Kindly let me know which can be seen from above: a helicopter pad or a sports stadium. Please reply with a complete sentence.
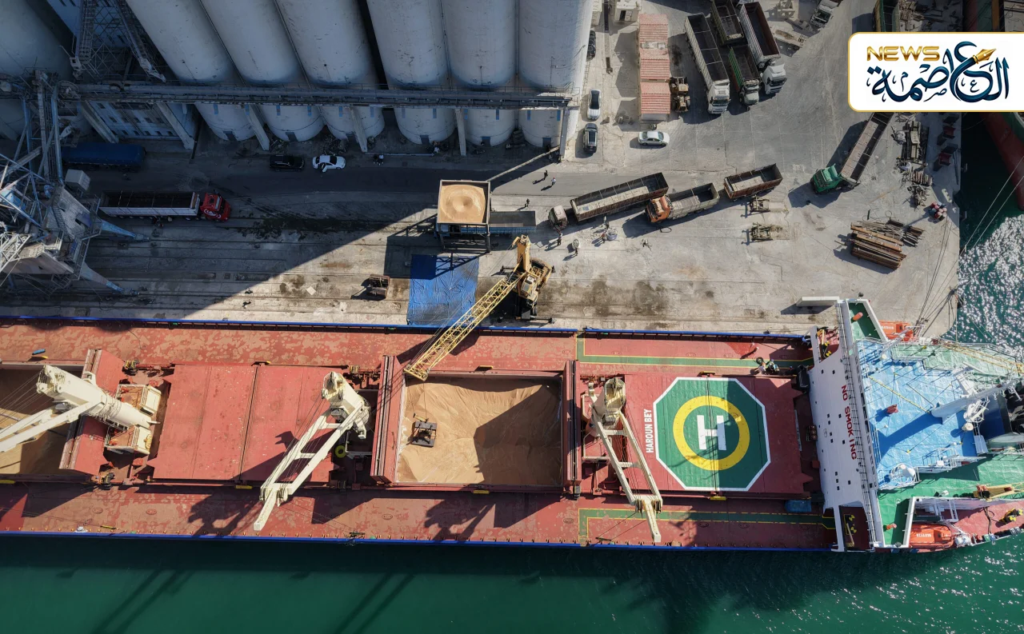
There is a helicopter pad in the scene.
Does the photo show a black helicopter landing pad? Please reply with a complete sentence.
No, the frame has no black helicopter landing pad in it.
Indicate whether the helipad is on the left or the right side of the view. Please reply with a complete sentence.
It is on the right.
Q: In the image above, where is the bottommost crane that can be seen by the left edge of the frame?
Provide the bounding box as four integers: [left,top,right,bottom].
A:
[0,368,173,473]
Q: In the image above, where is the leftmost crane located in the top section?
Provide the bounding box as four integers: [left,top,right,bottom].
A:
[0,64,153,298]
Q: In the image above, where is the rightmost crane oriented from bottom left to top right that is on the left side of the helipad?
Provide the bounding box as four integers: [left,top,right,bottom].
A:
[409,233,560,428]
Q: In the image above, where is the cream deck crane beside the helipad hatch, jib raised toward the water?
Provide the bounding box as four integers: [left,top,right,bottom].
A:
[574,382,663,547]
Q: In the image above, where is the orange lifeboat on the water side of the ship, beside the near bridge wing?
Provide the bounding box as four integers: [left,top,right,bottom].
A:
[912,524,963,552]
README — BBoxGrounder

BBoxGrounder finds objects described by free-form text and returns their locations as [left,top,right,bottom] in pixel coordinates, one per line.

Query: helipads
[651,378,773,494]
